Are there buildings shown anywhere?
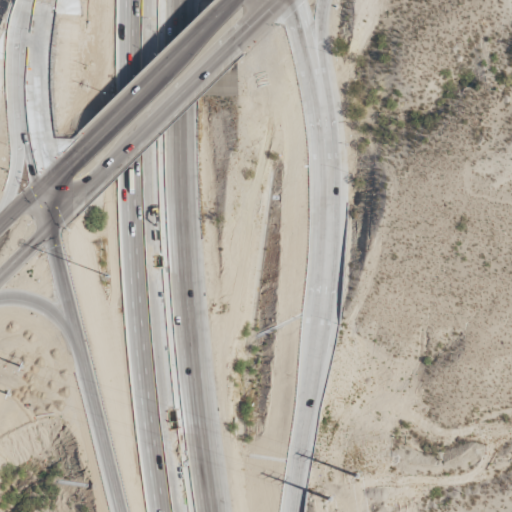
No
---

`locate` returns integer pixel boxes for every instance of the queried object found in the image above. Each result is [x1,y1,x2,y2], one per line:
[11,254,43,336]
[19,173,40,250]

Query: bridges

[84,0,243,188]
